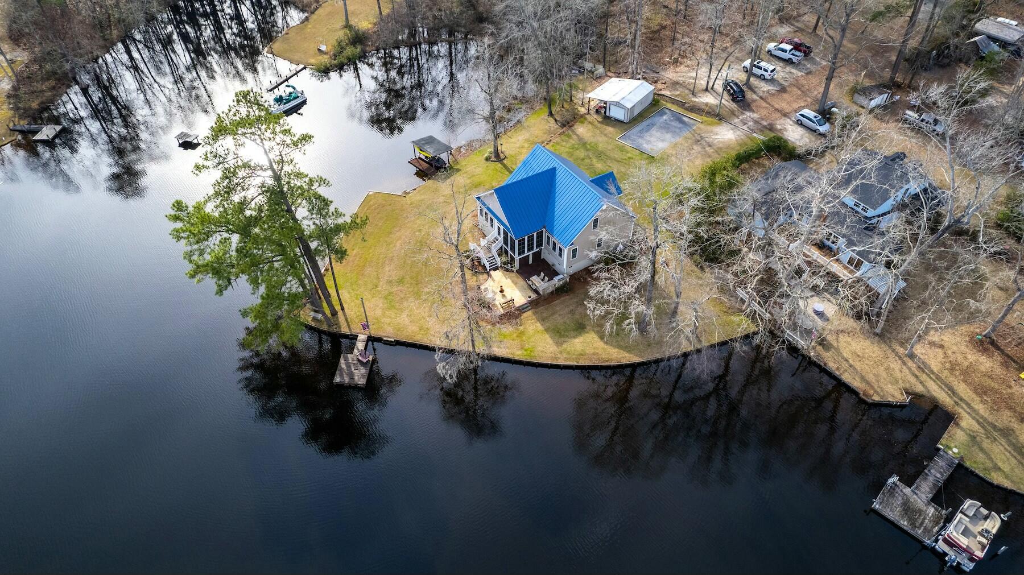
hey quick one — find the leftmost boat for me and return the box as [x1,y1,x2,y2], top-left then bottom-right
[265,86,306,115]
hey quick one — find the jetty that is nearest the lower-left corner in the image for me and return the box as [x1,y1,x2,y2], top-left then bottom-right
[333,335,373,387]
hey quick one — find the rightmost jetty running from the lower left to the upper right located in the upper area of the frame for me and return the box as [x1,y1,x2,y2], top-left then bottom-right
[263,64,307,94]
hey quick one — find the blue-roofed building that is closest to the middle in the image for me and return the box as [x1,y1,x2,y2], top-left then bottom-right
[472,143,637,292]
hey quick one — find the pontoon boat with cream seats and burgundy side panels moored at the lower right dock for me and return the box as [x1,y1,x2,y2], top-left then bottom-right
[932,495,1003,575]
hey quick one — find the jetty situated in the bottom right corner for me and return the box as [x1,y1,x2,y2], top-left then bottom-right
[870,444,963,542]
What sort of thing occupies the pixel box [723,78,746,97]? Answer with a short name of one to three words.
car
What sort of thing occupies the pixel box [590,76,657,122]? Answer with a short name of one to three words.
building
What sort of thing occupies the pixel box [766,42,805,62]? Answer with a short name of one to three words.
vehicle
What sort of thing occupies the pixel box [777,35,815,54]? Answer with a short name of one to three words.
vehicle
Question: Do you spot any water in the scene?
Yes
